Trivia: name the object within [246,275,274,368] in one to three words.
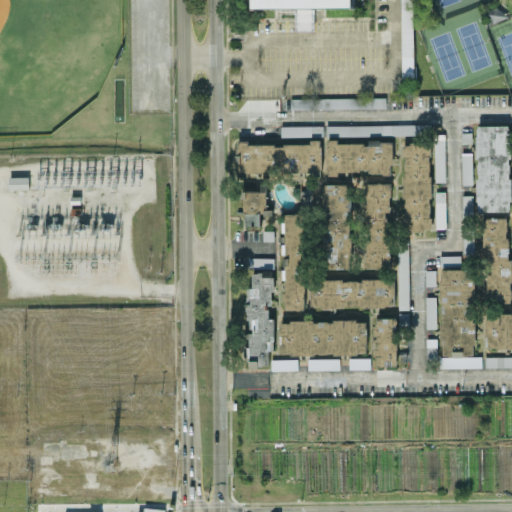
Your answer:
building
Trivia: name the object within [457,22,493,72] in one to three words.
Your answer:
tennis court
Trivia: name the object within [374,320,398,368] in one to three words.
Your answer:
building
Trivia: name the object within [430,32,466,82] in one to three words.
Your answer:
tennis court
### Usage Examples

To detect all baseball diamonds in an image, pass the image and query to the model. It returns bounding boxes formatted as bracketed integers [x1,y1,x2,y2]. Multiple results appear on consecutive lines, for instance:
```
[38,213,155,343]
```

[0,0,123,136]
